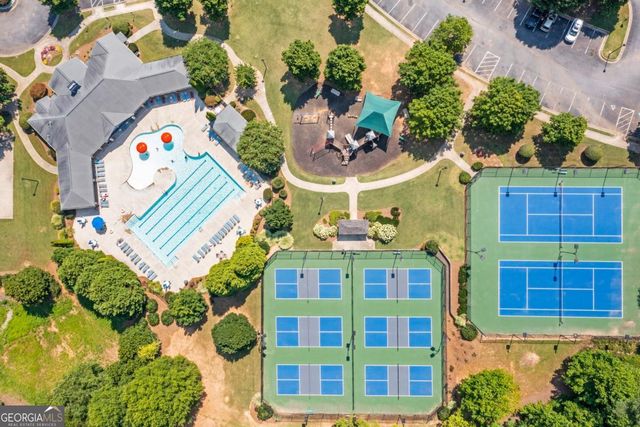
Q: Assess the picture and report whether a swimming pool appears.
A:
Yes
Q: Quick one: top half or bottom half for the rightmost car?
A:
top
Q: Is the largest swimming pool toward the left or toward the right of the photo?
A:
left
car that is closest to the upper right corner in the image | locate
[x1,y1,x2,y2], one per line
[565,18,585,44]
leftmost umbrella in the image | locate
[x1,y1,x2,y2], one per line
[92,216,107,230]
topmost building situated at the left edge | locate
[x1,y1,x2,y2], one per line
[28,32,197,210]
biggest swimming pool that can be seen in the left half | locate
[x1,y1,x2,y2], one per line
[124,123,246,268]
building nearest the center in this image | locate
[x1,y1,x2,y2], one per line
[339,219,368,234]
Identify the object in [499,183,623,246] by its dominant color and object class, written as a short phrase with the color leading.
blue tennis court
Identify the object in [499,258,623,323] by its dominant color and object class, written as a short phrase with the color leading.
blue tennis court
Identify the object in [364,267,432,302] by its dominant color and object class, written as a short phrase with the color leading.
blue sports court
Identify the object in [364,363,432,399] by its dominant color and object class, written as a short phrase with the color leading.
blue sports court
